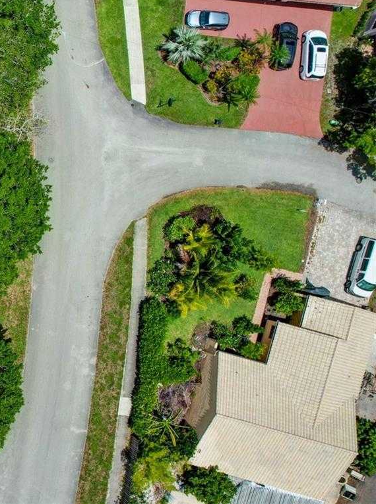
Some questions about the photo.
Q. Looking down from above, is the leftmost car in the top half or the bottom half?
top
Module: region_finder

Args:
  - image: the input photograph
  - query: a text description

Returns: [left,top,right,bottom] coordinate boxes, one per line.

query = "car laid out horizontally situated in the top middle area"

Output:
[183,6,233,31]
